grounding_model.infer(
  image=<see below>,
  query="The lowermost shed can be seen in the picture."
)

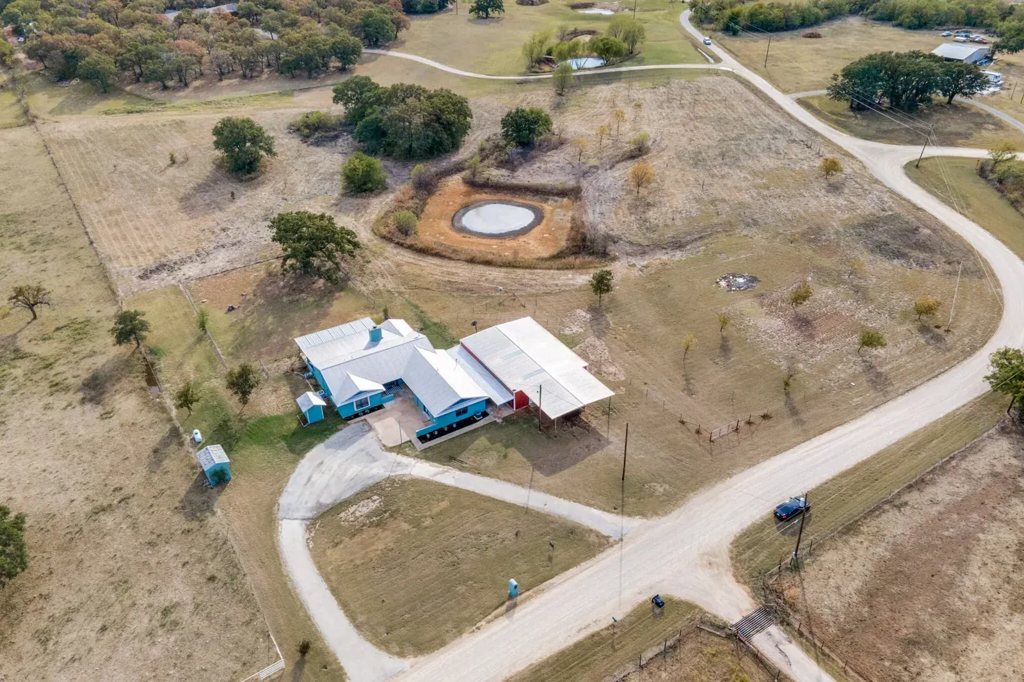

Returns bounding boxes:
[204,452,234,485]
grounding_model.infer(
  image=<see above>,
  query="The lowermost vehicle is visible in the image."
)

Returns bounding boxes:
[775,496,814,521]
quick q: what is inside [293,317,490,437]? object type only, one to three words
house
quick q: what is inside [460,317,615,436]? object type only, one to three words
barn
